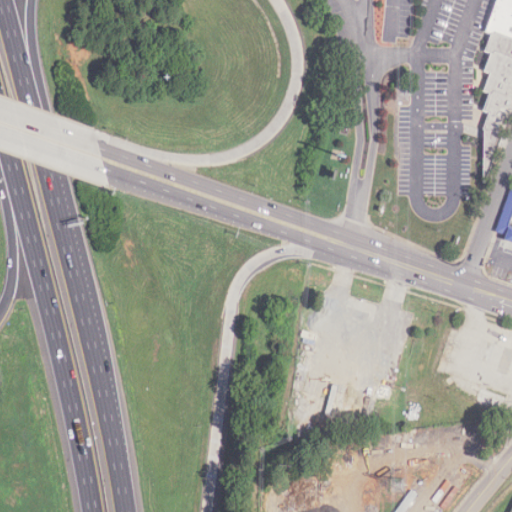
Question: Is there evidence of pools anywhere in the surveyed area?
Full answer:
No, the frame has no pool in it.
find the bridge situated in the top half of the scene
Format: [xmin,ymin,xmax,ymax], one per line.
[0,94,109,190]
